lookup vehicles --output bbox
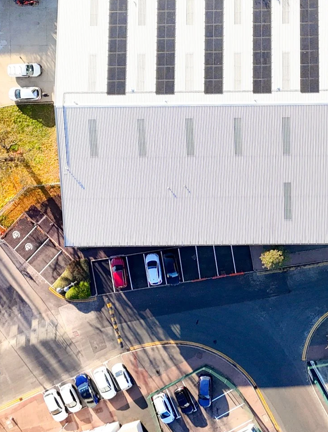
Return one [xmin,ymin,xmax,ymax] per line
[42,387,67,424]
[176,384,196,416]
[7,61,43,78]
[76,370,99,408]
[196,374,213,408]
[59,380,83,414]
[144,252,162,287]
[111,359,134,395]
[92,364,117,400]
[110,255,131,293]
[11,0,42,8]
[9,86,44,103]
[163,248,182,284]
[152,391,174,425]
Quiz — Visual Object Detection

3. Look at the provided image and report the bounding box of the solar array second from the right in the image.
[251,0,272,93]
